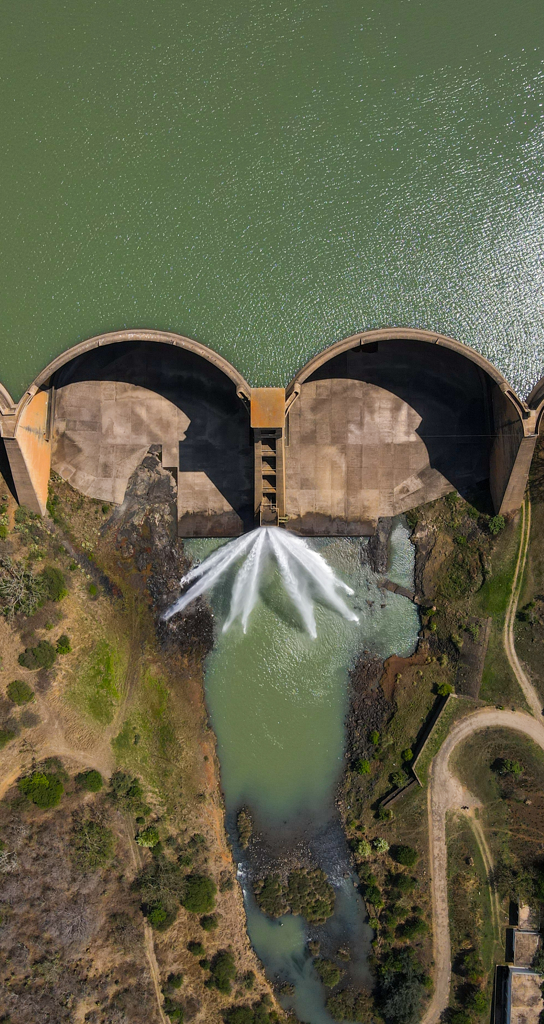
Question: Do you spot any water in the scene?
Yes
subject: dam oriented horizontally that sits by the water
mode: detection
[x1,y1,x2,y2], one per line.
[0,330,544,537]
